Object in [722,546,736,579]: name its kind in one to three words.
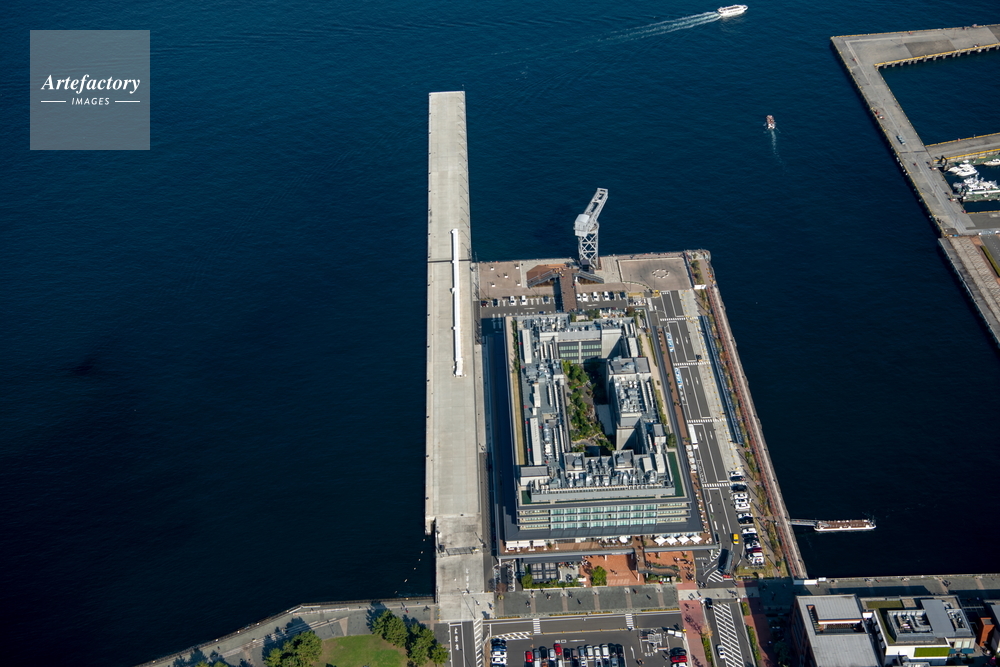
vehicle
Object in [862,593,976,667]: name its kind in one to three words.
building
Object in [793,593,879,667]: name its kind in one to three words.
building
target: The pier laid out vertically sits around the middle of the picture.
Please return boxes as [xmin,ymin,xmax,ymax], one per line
[422,91,481,540]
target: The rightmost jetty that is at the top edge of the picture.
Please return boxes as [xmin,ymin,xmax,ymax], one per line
[831,24,1000,237]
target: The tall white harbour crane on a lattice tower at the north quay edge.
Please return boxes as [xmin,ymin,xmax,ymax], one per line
[573,186,609,271]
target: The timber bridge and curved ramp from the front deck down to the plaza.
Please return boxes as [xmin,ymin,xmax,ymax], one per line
[634,549,680,580]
